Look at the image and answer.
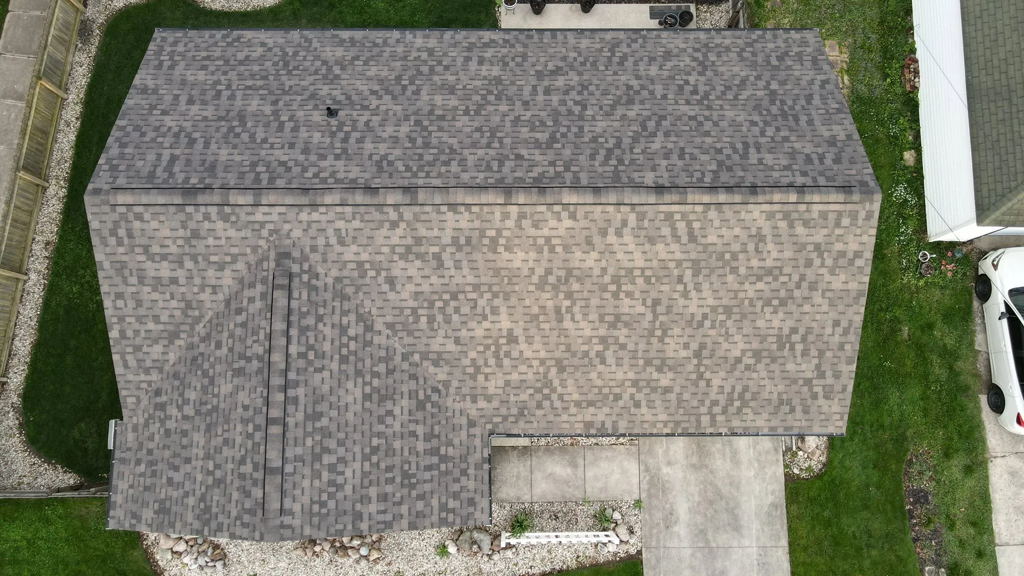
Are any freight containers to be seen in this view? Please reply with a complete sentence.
No, I find no freight container anywhere in the image.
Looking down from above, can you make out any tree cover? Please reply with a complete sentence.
No, tree cover can't be seen anywhere here.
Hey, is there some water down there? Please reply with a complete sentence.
No, the picture contains no water.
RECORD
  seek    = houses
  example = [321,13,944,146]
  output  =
[82,28,882,546]
[914,0,1024,244]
